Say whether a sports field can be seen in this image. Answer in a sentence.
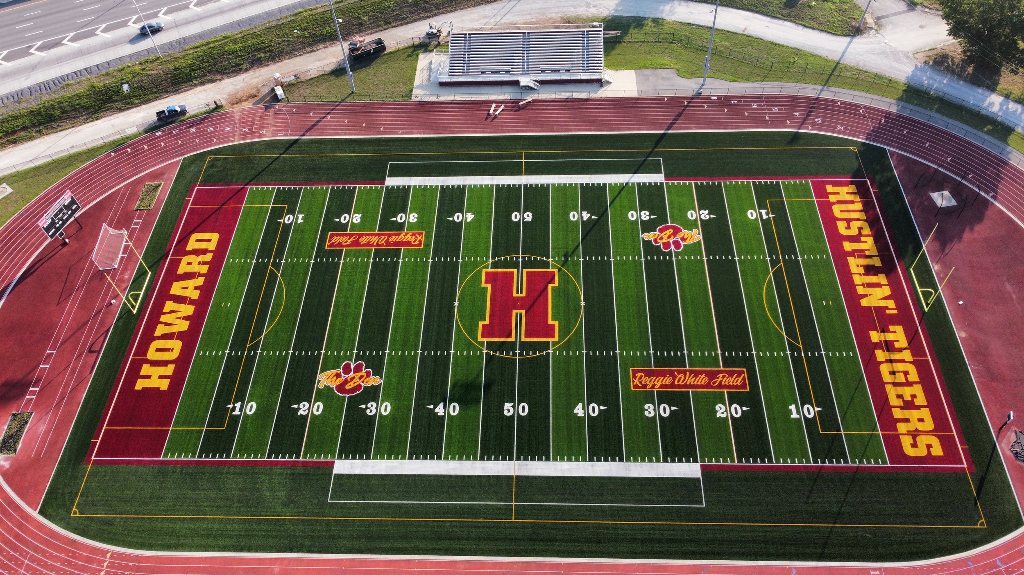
Yes, the picture does show a sports field.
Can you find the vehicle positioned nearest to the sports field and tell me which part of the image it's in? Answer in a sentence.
You can find the vehicle positioned nearest to the sports field in the top left area of the picture.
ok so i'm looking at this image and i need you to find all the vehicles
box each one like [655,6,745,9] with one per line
[347,34,365,47]
[139,22,164,34]
[154,103,190,123]
[426,20,453,37]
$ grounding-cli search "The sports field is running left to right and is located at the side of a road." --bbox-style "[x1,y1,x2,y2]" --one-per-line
[39,130,1023,562]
